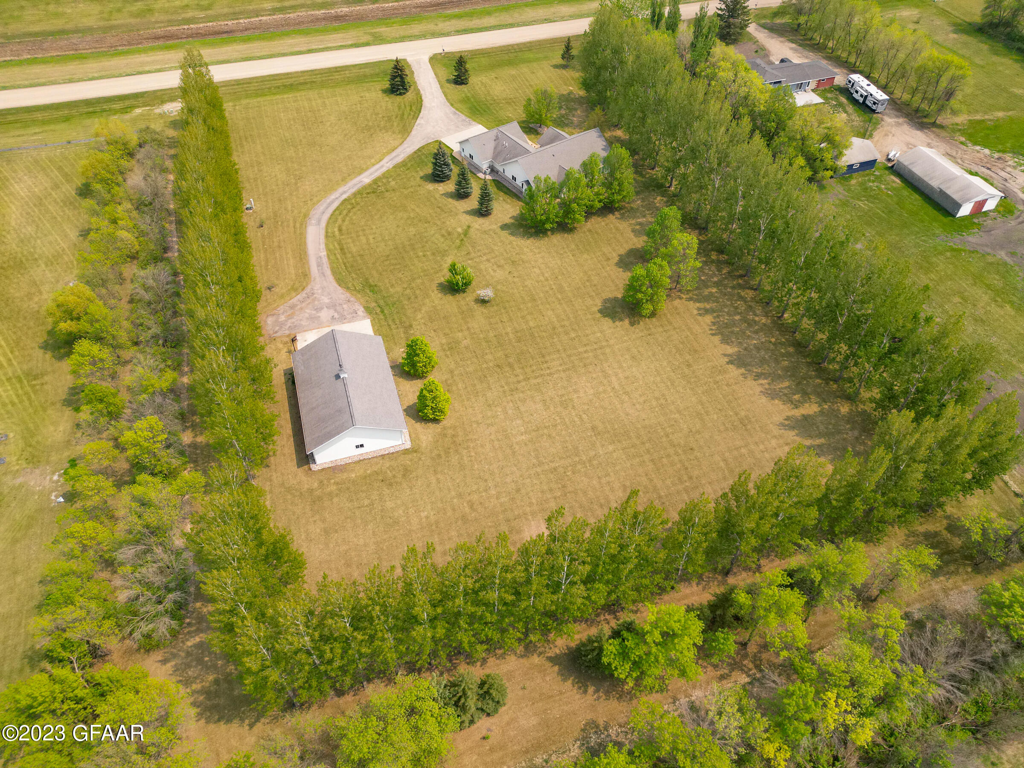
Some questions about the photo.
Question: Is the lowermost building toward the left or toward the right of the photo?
left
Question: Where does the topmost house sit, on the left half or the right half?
right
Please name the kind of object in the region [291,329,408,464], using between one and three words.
building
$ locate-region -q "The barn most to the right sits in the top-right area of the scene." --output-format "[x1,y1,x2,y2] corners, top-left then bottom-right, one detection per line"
[893,146,1005,218]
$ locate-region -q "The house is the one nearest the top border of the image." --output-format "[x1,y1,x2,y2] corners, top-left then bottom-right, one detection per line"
[736,57,840,94]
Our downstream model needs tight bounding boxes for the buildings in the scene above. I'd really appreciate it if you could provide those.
[455,121,613,200]
[814,137,881,178]
[893,146,1005,218]
[736,57,840,94]
[291,329,408,464]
